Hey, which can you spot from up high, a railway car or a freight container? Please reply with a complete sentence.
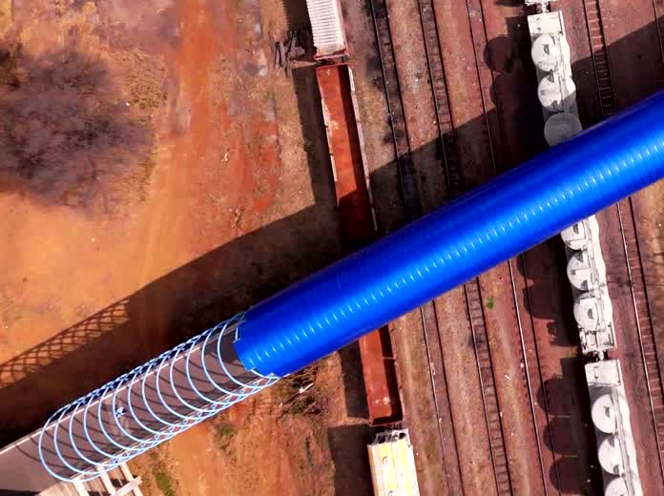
The image shows a railway car.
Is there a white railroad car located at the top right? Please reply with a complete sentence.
Yes, at the top right there is a white railroad car.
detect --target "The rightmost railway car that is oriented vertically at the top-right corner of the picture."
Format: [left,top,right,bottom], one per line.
[528,5,583,150]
